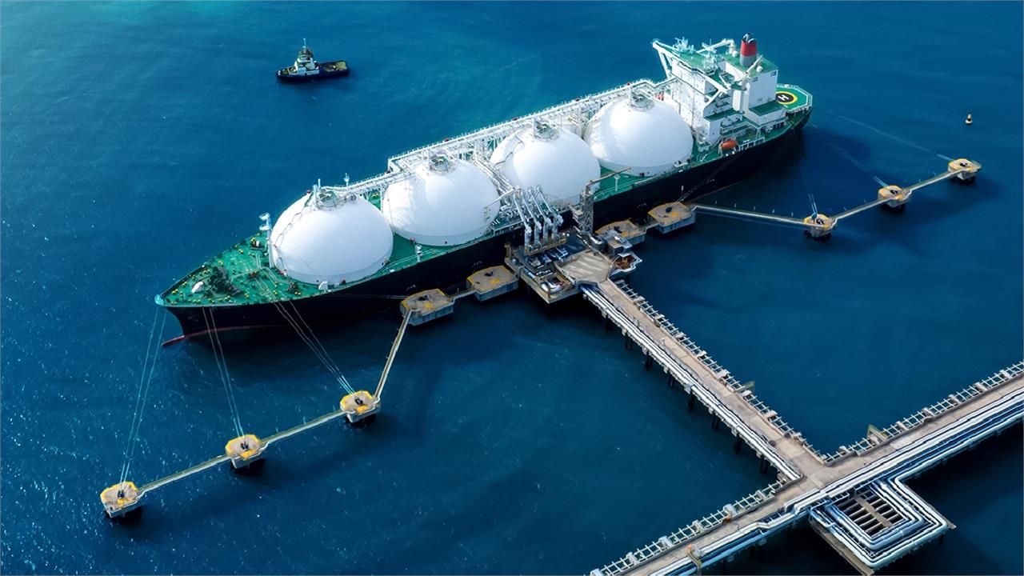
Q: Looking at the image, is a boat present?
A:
Yes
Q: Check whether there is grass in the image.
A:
No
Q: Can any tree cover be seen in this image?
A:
No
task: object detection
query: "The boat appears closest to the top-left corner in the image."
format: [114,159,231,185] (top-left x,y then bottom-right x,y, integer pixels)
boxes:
[277,38,350,83]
